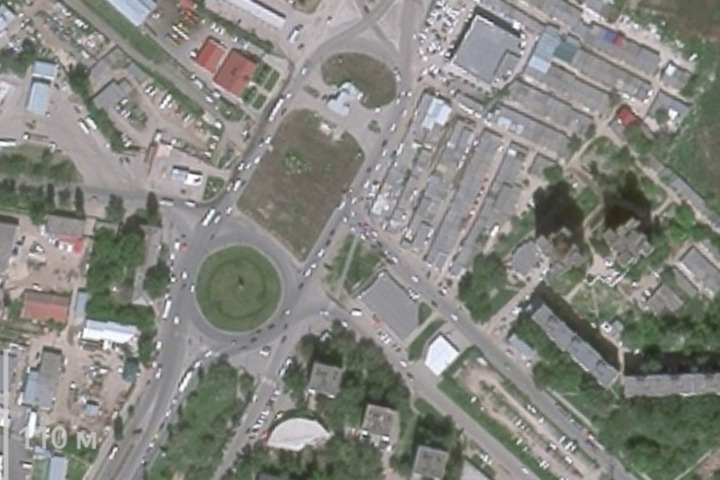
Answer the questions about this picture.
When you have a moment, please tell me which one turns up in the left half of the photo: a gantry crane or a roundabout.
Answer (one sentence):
Visible in the left half of the photo is a roundabout.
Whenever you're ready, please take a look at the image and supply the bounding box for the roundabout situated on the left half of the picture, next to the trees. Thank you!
[188,226,297,347]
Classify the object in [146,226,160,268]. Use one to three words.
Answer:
shed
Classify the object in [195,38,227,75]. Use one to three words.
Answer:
building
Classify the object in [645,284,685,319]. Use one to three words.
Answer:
house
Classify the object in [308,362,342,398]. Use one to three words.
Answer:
building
